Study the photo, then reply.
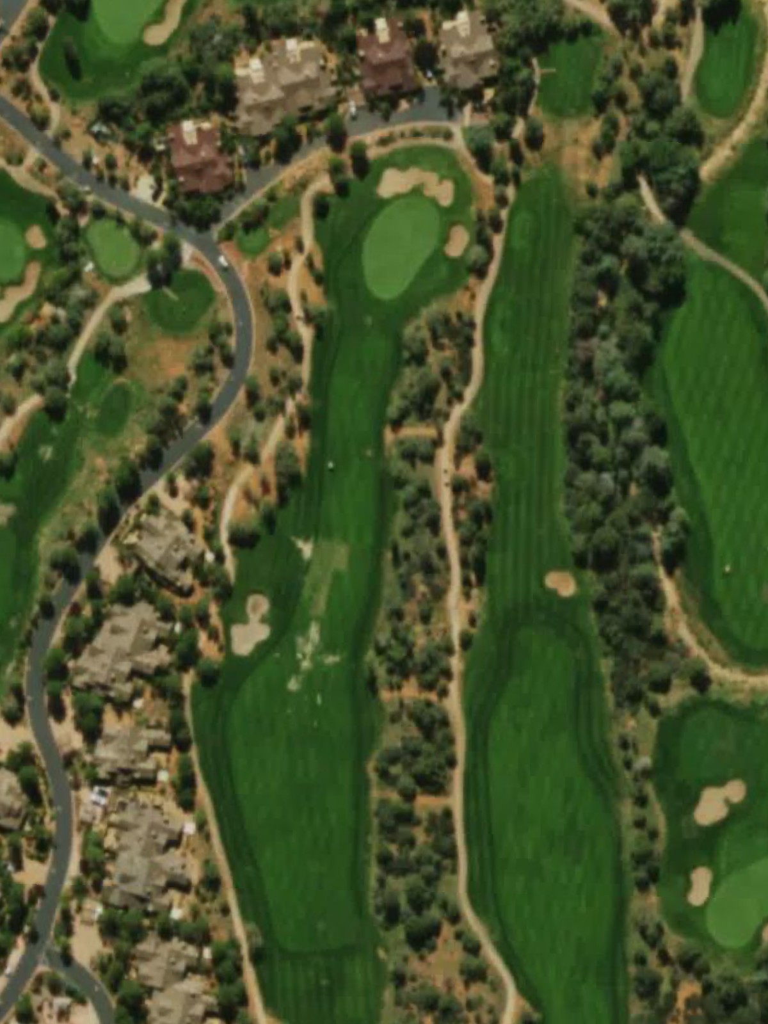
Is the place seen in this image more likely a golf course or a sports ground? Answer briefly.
golf course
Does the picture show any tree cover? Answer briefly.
Yes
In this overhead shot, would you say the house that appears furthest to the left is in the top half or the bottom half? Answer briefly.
bottom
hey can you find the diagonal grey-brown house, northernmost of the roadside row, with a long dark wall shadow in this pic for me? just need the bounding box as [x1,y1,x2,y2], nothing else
[126,509,205,590]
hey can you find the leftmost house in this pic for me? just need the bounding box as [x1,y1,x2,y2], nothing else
[0,767,28,831]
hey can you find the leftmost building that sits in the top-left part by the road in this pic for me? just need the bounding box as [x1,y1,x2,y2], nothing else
[156,118,235,195]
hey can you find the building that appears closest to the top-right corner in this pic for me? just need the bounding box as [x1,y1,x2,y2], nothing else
[438,6,502,89]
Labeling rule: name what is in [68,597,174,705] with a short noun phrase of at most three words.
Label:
house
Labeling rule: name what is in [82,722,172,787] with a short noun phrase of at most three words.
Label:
house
